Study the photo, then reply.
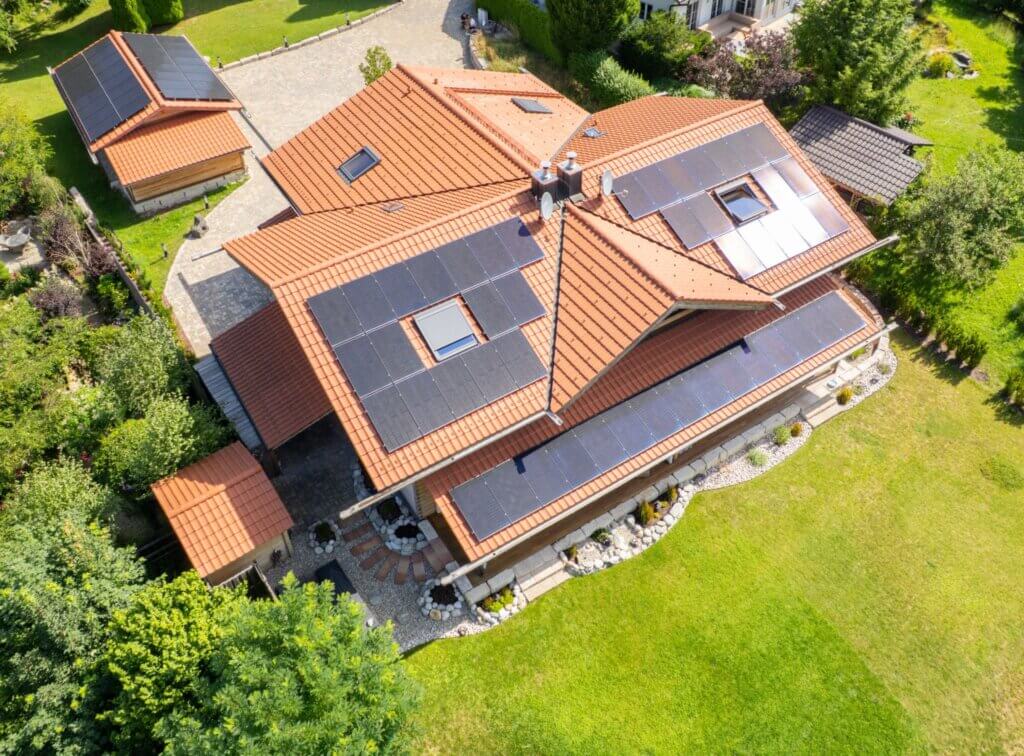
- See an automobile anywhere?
No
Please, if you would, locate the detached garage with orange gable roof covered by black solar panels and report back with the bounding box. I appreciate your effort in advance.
[46,27,254,213]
